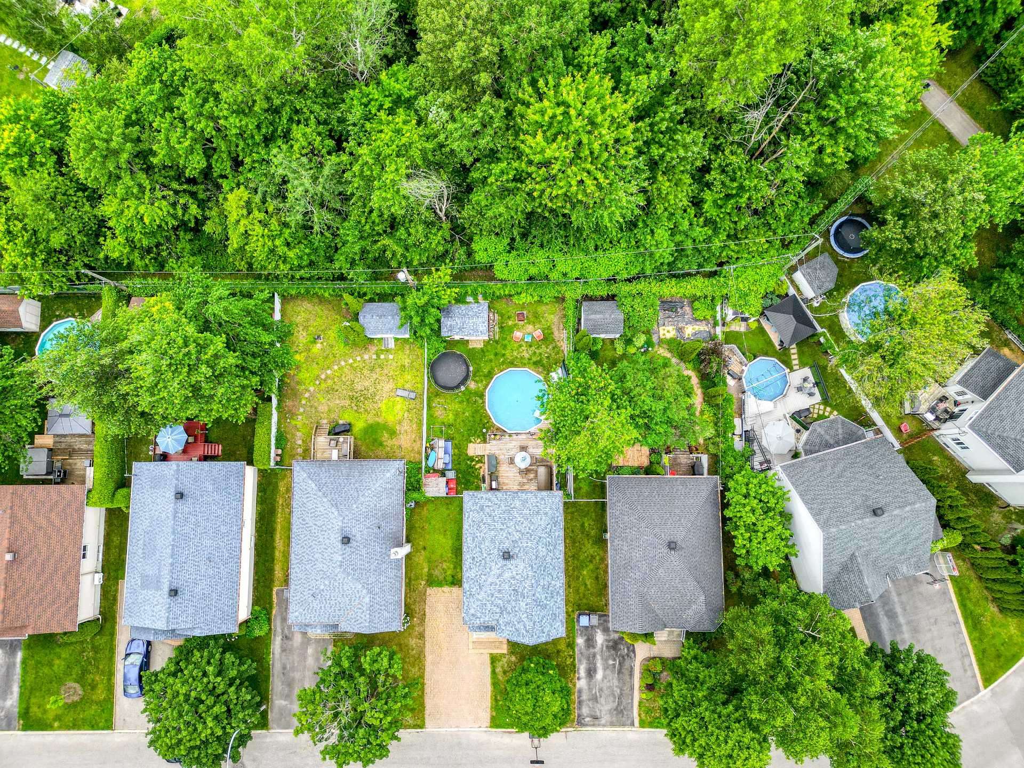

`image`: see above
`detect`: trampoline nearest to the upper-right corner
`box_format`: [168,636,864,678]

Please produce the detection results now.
[827,208,883,260]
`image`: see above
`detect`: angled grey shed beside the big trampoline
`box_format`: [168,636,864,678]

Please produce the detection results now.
[793,251,844,297]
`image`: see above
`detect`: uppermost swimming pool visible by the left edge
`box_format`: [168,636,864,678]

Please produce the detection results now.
[37,317,99,397]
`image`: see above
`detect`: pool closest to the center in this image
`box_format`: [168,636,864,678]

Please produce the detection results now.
[486,370,546,432]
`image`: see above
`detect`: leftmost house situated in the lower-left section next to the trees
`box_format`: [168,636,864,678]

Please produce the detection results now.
[0,485,105,641]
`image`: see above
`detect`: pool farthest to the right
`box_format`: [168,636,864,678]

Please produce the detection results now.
[835,279,910,348]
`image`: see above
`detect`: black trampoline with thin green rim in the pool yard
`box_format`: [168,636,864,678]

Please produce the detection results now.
[427,347,472,393]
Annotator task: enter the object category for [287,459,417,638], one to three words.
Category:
house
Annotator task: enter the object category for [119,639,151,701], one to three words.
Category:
car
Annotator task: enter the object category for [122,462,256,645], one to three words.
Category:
house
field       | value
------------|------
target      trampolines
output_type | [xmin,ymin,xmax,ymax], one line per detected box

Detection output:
[827,208,883,260]
[427,347,472,393]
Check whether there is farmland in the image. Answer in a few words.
No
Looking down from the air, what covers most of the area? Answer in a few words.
trees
